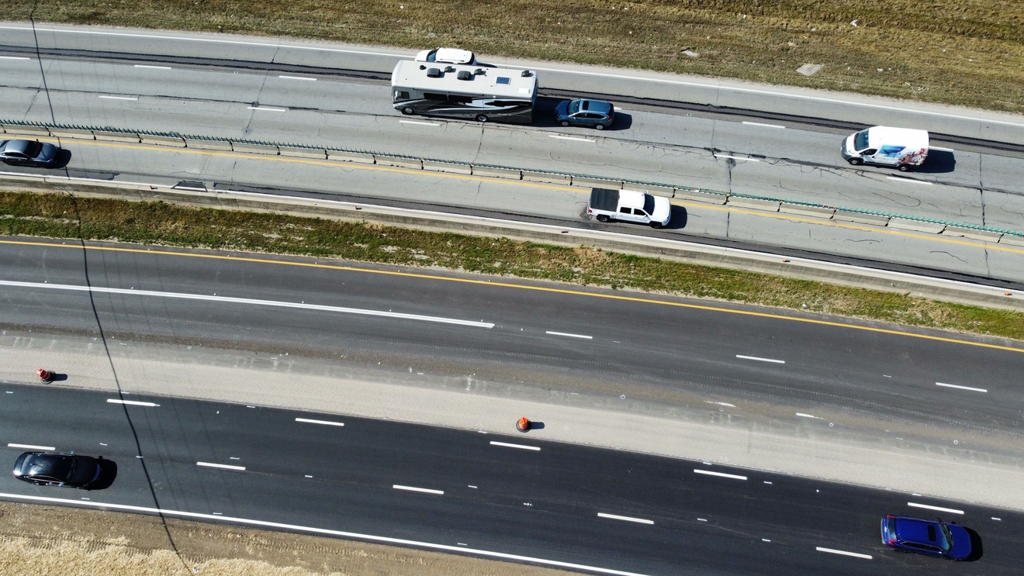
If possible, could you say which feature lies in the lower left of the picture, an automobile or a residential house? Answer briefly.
automobile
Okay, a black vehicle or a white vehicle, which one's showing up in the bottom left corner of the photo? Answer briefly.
black vehicle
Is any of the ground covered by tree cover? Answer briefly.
No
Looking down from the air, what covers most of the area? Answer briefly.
paved ground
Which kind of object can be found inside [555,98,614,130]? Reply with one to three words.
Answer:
car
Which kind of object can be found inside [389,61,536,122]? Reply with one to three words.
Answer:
camper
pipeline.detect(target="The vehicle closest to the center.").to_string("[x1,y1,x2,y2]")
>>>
[587,188,674,227]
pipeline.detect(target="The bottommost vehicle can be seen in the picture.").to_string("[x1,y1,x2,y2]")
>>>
[878,512,975,561]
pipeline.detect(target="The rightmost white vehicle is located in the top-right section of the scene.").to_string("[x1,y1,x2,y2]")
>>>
[840,126,930,172]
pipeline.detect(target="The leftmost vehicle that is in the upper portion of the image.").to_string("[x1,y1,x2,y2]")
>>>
[0,139,61,168]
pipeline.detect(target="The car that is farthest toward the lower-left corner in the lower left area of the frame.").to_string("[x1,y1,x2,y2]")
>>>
[13,450,103,489]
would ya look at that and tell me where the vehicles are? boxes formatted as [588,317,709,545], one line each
[587,188,674,227]
[389,61,536,122]
[878,512,975,561]
[555,98,614,130]
[0,139,61,168]
[840,126,930,172]
[417,47,480,67]
[13,450,103,489]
